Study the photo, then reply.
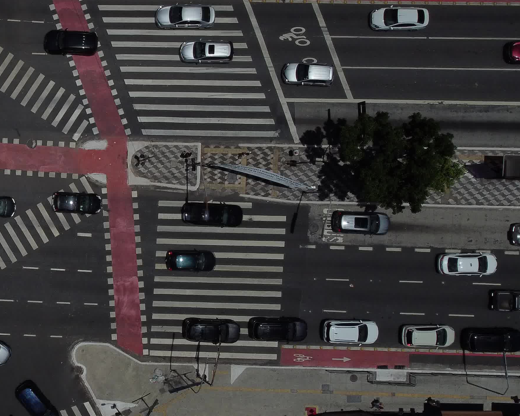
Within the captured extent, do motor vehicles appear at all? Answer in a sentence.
Yes, the photo shows a motor vehicle.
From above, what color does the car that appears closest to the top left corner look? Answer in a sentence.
From above, the car that appears closest to the top left corner appears black.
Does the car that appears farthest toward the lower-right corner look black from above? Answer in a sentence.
Yes, the car that appears farthest toward the lower-right corner appears black.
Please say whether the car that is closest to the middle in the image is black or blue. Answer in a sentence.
The car that is closest to the middle is black.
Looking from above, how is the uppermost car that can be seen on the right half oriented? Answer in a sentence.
The uppermost car that can be seen on the right half is laid out from side to side.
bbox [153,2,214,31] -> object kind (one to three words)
car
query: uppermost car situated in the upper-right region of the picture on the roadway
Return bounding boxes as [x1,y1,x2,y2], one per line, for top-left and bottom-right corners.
[366,4,429,33]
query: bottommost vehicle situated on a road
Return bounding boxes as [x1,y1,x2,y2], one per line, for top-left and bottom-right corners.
[15,377,57,416]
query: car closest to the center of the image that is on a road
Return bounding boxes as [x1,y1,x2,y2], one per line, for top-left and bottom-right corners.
[180,201,242,228]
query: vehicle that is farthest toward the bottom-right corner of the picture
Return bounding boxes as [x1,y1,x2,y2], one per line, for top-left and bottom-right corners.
[457,327,520,355]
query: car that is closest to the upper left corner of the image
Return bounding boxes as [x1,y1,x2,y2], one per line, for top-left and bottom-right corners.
[43,26,97,56]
